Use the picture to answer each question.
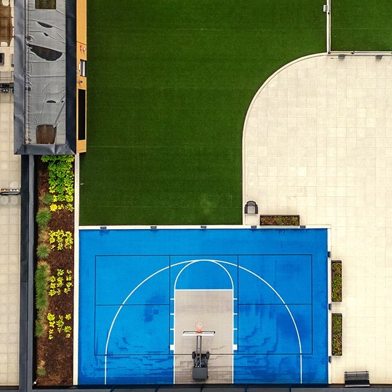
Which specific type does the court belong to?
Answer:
basketball court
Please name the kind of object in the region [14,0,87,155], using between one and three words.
shed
